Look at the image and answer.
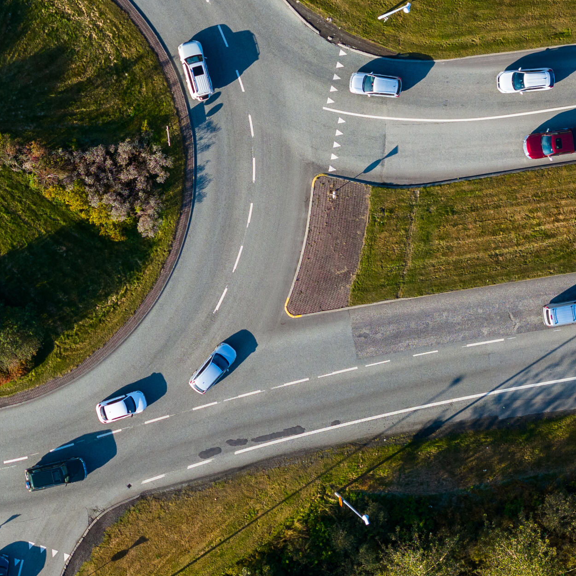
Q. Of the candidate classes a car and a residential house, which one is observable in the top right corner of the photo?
car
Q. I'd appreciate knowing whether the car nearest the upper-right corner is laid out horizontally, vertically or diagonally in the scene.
horizontally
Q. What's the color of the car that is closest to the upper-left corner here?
white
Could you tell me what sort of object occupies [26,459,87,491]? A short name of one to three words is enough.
car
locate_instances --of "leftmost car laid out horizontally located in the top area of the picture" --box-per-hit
[348,70,404,98]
